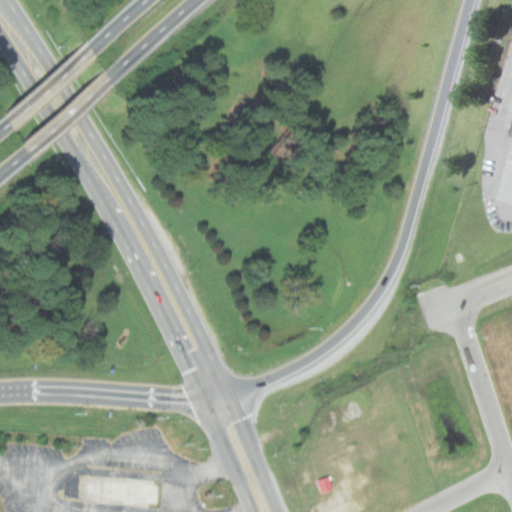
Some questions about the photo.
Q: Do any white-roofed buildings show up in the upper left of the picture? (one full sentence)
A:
No, there is no white-roofed building in the upper left of the picture.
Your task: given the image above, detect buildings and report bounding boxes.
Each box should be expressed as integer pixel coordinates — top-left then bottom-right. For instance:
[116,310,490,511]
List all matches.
[316,477,332,494]
[76,476,158,508]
